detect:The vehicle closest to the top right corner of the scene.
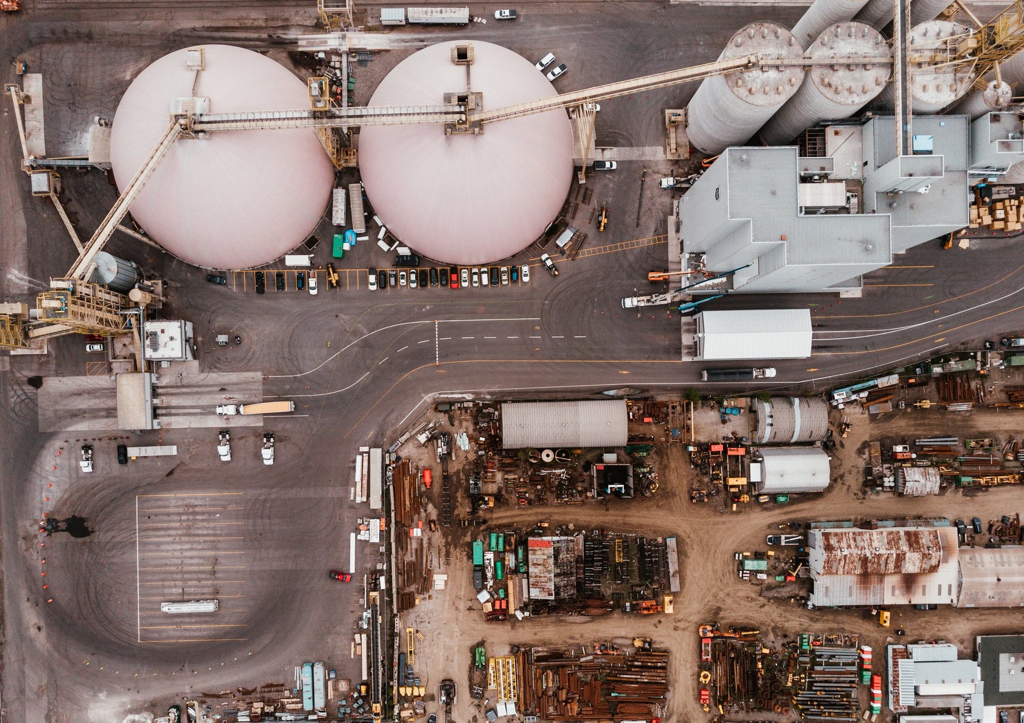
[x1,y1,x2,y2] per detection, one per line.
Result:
[941,234,953,252]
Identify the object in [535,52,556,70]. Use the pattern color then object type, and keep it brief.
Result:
white vehicle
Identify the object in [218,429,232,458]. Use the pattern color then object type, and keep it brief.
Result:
white vehicle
